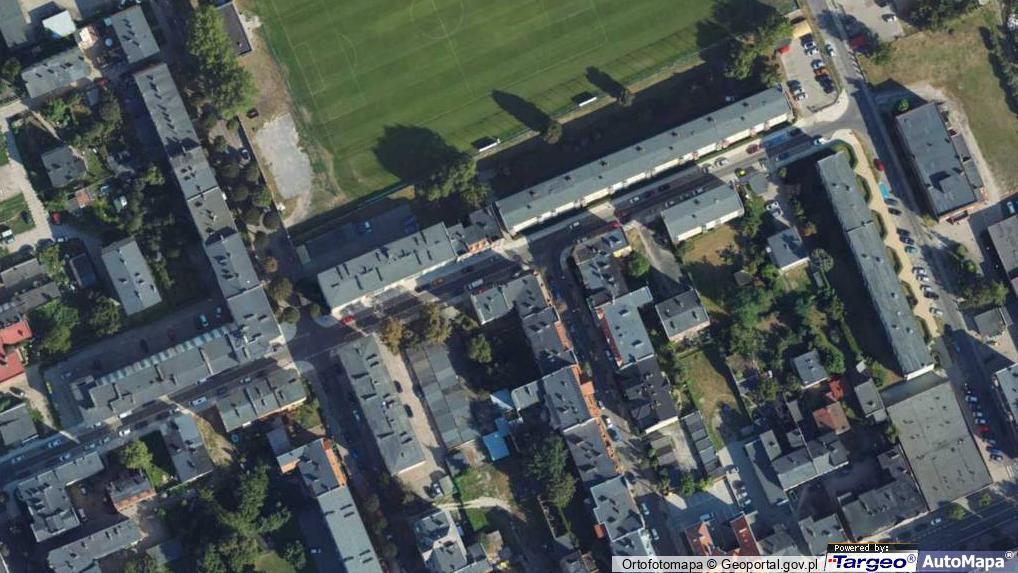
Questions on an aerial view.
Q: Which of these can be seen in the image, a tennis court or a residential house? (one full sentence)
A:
There is a residential house in the scene.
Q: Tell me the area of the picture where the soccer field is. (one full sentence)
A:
The soccer field appears toward the top of the photo.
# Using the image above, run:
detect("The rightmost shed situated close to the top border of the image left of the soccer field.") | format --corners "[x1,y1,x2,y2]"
[217,1,252,55]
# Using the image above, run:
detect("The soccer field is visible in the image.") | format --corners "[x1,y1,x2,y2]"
[261,0,765,196]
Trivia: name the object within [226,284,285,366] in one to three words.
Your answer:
house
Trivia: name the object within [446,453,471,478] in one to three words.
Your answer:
shed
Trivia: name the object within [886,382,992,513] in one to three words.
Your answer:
building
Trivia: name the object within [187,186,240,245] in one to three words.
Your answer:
house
